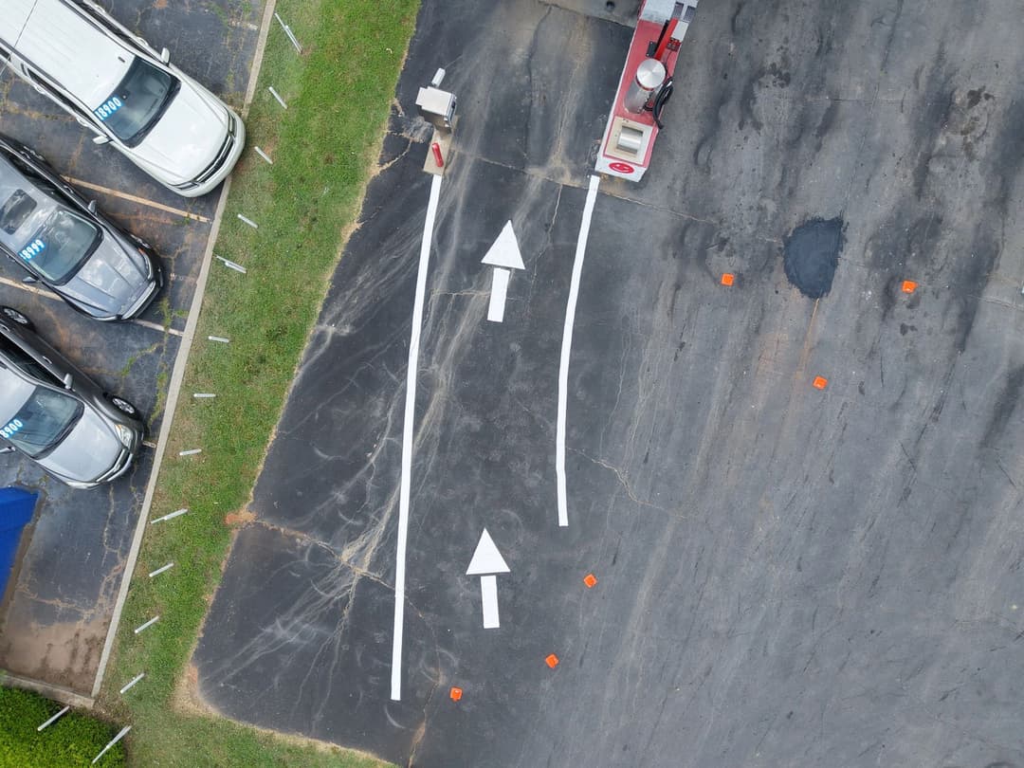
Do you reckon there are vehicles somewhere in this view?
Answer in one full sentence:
Yes, the picture does show a vehicle.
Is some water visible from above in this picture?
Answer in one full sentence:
No, there is no water in the image.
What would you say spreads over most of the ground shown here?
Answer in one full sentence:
For the most part, this view shows paved ground.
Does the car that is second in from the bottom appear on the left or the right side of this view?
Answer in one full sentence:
The car that is second in from the bottom is on the left side of the image.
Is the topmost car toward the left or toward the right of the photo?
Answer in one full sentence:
You can find the topmost car on the left side of the picture.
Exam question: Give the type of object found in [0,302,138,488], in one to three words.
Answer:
car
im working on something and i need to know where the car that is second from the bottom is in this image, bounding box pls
[0,121,164,319]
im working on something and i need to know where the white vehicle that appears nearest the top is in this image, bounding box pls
[0,0,246,198]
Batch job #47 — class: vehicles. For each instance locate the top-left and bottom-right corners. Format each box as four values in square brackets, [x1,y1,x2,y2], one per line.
[0,121,164,319]
[0,0,246,198]
[0,302,138,488]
